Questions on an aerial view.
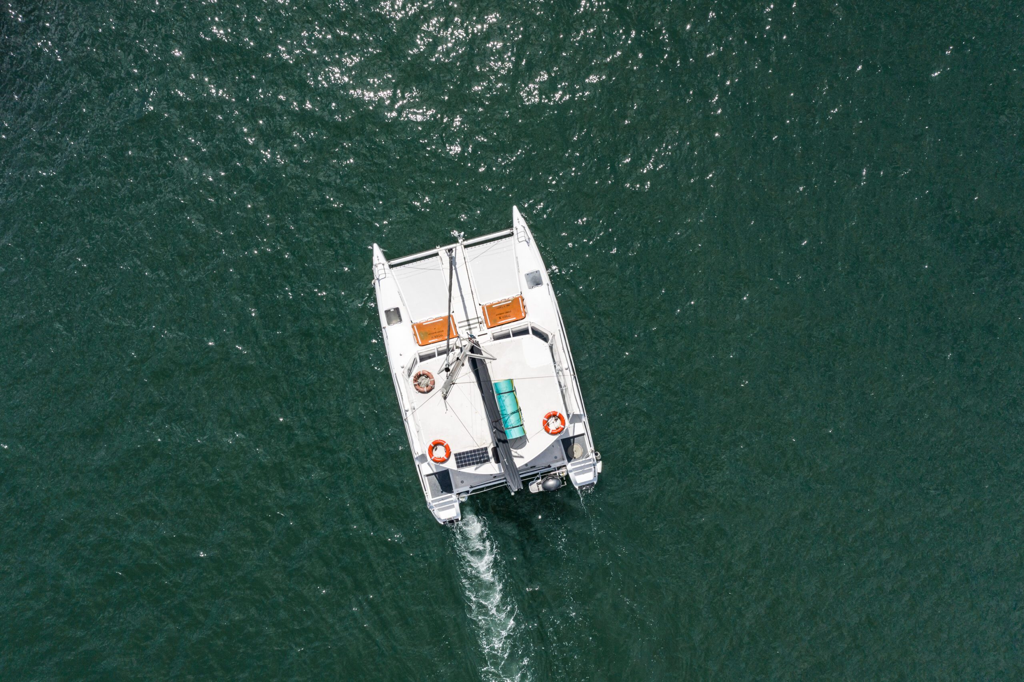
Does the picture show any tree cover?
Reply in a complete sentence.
No, the picture contains no tree cover.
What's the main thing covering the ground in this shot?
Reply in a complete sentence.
The bulk of the photo consists of water.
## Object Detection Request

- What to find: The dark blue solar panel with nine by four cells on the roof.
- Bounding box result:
[453,444,492,469]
